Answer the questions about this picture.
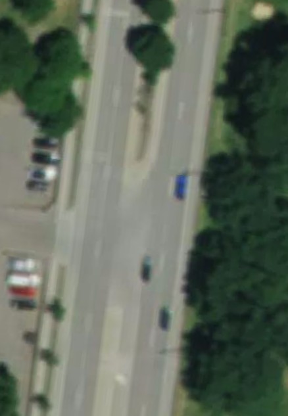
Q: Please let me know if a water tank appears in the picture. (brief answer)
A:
No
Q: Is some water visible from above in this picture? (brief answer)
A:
No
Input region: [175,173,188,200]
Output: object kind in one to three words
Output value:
vehicle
